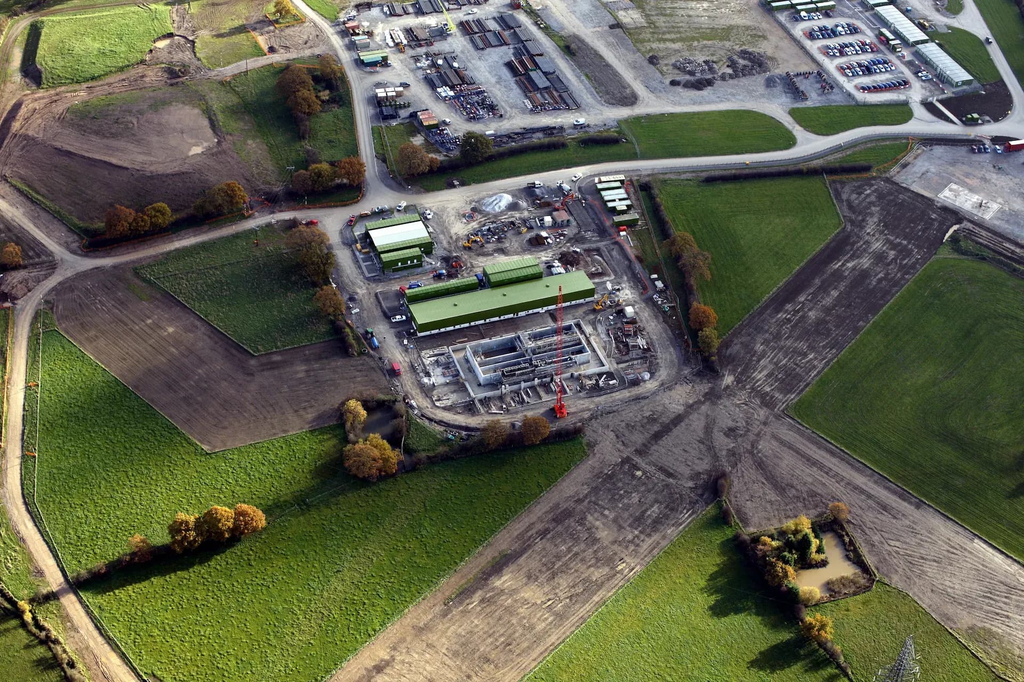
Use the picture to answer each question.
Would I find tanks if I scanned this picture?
Yes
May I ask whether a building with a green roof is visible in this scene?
Yes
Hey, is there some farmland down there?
Yes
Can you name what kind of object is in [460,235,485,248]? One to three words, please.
vehicle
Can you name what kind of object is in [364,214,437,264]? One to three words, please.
building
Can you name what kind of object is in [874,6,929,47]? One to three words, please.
building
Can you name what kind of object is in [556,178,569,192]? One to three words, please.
vehicle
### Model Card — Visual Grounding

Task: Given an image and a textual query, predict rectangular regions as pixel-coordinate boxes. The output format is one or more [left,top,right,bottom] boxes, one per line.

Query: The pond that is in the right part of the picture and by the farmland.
[796,533,860,595]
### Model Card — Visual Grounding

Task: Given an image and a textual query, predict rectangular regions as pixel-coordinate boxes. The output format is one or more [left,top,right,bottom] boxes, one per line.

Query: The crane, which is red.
[553,286,568,421]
